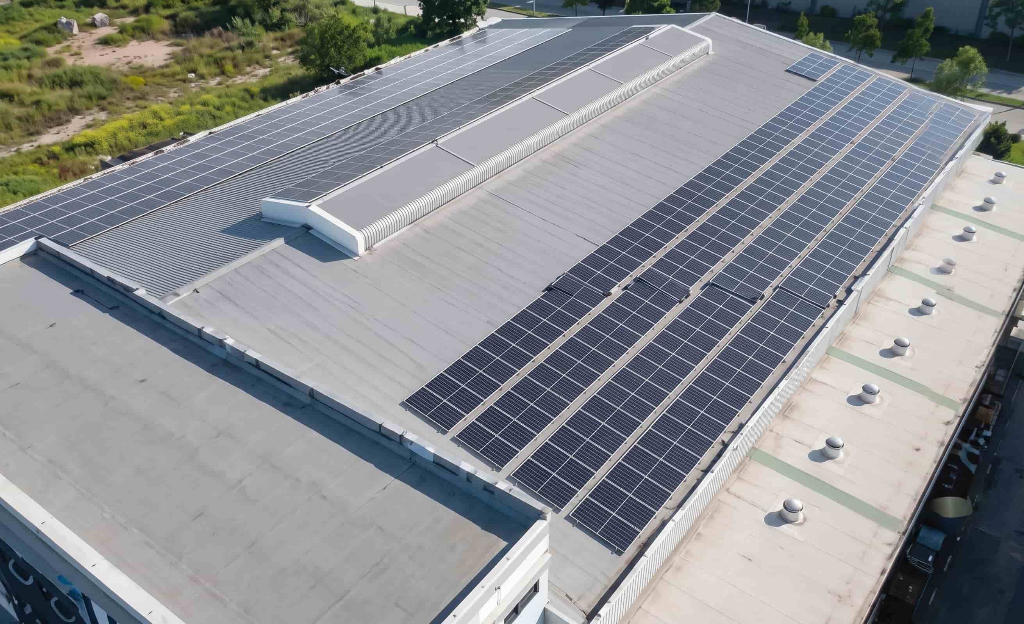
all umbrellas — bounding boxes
[930,495,970,527]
